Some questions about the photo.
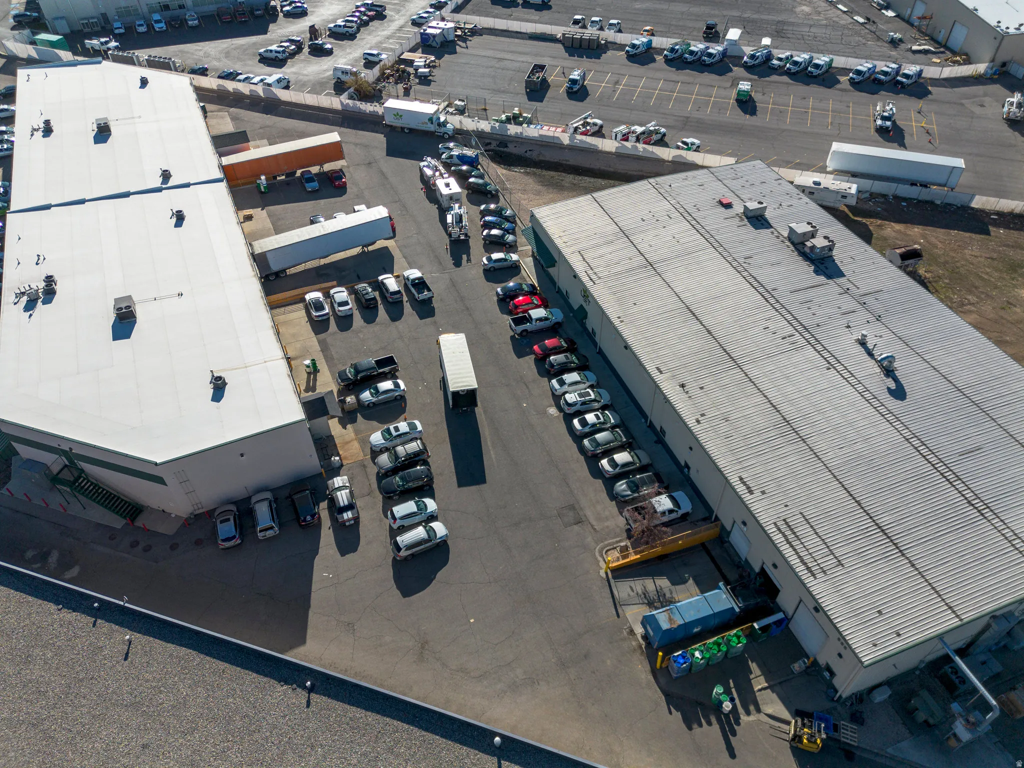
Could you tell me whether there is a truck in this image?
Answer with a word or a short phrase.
Yes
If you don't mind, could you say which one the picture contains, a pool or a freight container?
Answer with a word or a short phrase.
freight container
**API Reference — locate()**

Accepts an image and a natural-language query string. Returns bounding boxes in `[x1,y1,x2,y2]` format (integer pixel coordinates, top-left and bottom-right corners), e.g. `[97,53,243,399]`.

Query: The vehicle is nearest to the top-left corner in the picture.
[9,10,42,24]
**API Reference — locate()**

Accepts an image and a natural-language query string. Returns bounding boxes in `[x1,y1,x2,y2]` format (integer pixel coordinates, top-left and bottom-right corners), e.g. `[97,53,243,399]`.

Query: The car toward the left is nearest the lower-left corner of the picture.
[211,503,243,553]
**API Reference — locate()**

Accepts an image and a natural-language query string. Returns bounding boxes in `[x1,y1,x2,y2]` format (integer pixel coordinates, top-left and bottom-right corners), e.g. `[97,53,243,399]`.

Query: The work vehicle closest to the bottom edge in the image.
[768,721,835,755]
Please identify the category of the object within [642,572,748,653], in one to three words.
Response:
shipping container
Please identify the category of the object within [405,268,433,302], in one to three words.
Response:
truck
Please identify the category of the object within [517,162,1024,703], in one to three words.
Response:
building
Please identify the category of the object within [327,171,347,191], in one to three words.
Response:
car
